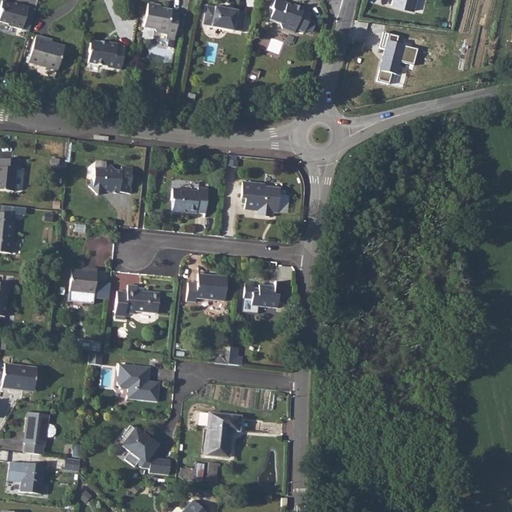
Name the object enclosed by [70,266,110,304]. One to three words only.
house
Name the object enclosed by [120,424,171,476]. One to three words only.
house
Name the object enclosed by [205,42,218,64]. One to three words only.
swimming pool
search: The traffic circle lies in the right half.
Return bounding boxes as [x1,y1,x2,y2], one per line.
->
[292,108,348,162]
